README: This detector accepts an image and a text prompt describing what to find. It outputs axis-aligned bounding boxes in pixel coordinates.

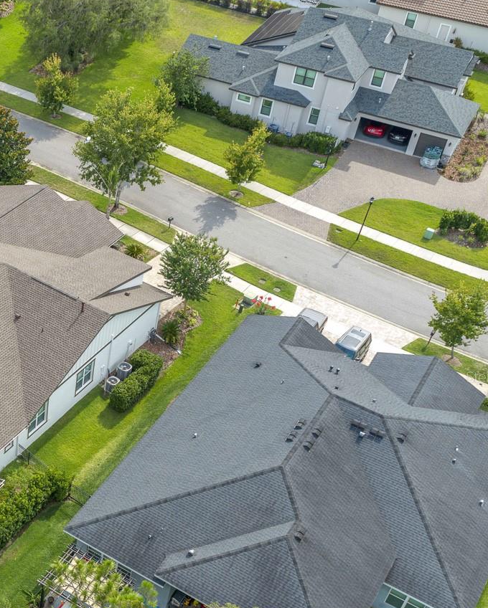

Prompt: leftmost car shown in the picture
[282,297,317,325]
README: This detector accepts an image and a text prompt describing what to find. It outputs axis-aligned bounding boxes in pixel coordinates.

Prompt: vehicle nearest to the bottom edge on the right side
[331,324,366,359]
